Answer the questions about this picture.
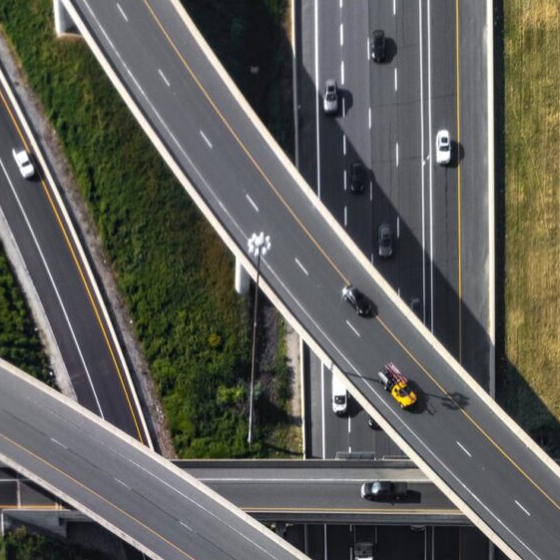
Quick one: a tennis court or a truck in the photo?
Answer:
truck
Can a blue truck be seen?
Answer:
No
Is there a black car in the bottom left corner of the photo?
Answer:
No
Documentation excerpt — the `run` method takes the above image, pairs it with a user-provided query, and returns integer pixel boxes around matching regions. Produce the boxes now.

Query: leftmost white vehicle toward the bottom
[332,374,350,413]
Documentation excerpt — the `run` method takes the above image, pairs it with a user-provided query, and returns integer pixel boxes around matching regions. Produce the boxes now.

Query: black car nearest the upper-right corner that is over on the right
[370,29,387,62]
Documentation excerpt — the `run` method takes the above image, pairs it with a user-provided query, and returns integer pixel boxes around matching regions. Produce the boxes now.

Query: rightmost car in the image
[436,130,452,164]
